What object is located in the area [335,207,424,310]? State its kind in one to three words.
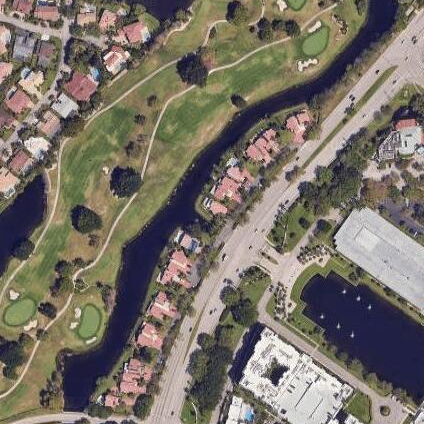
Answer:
building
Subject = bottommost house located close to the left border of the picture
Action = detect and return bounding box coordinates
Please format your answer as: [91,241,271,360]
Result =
[0,168,20,194]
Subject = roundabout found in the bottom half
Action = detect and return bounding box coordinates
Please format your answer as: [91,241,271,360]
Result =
[368,395,403,424]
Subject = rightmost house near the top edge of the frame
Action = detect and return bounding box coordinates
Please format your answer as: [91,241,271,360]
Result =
[124,20,150,45]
